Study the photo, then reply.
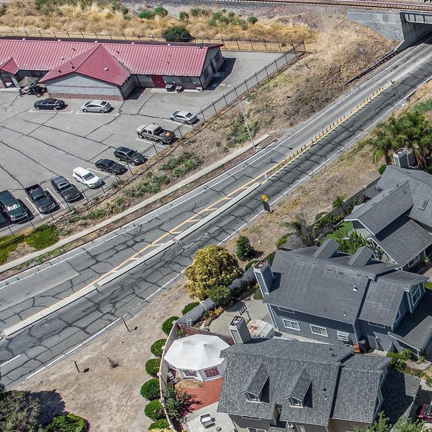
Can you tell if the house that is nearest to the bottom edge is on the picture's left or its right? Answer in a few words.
right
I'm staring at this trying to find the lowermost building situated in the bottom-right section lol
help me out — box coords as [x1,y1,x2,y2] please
[217,317,421,432]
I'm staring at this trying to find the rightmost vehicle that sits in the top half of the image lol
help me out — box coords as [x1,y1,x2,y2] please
[168,109,197,125]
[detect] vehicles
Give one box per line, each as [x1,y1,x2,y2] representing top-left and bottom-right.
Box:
[136,124,173,145]
[80,99,111,112]
[22,187,54,213]
[0,196,25,221]
[168,109,197,125]
[32,97,64,110]
[113,145,144,165]
[69,166,101,189]
[51,177,80,201]
[93,157,125,177]
[417,405,432,423]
